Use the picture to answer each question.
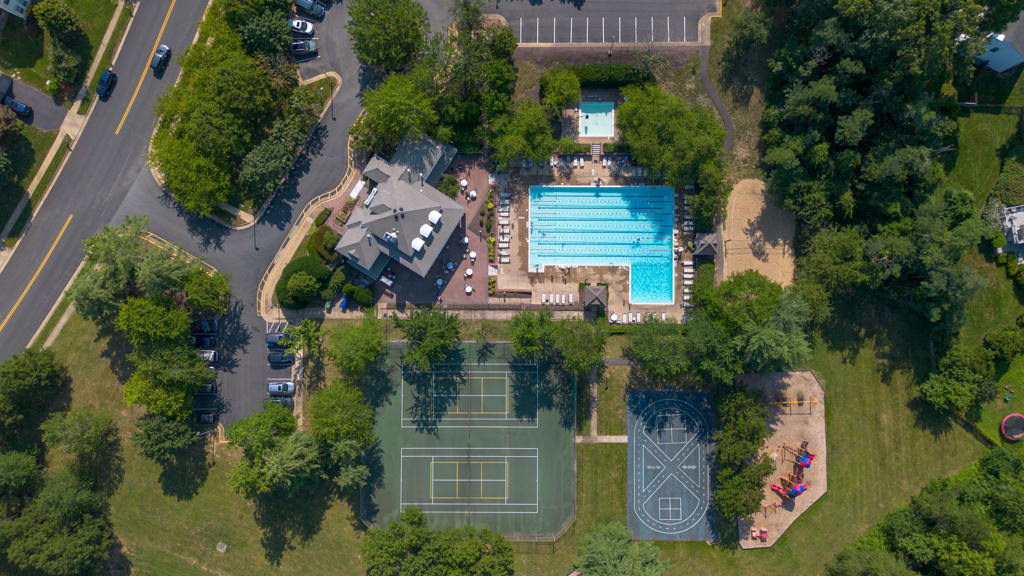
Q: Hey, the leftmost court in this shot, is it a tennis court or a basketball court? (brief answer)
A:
tennis court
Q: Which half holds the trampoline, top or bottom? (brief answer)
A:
bottom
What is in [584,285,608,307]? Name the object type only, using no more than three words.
building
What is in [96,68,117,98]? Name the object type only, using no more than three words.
vehicle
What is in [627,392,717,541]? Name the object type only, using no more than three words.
sports court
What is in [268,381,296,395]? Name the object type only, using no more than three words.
car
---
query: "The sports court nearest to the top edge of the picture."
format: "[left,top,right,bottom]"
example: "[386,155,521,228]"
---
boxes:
[723,179,797,290]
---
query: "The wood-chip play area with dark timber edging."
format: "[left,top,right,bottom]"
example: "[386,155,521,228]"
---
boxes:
[735,369,828,550]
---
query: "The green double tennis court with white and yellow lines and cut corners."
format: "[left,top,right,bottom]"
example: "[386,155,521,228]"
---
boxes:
[366,342,575,536]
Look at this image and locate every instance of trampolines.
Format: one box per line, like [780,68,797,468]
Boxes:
[1000,414,1024,441]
